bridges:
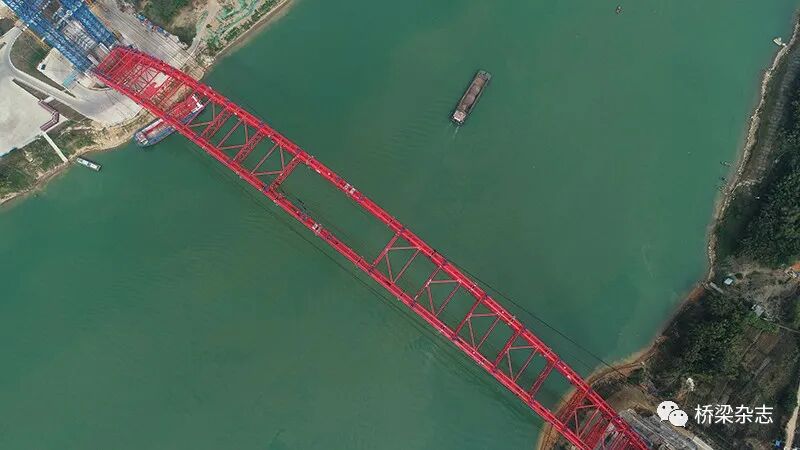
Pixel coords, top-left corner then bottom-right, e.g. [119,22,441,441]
[92,44,652,450]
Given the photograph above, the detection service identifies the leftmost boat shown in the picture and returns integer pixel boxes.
[77,157,101,170]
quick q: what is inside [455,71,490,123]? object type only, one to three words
ship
